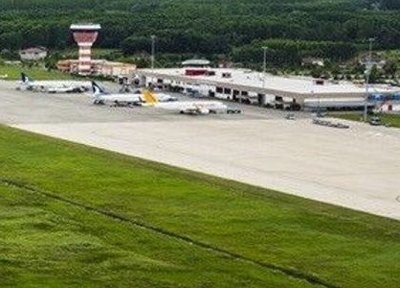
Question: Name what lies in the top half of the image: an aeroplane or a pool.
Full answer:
You can see an aeroplane in the top half of the image.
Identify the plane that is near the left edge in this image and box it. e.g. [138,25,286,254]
[16,64,90,90]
